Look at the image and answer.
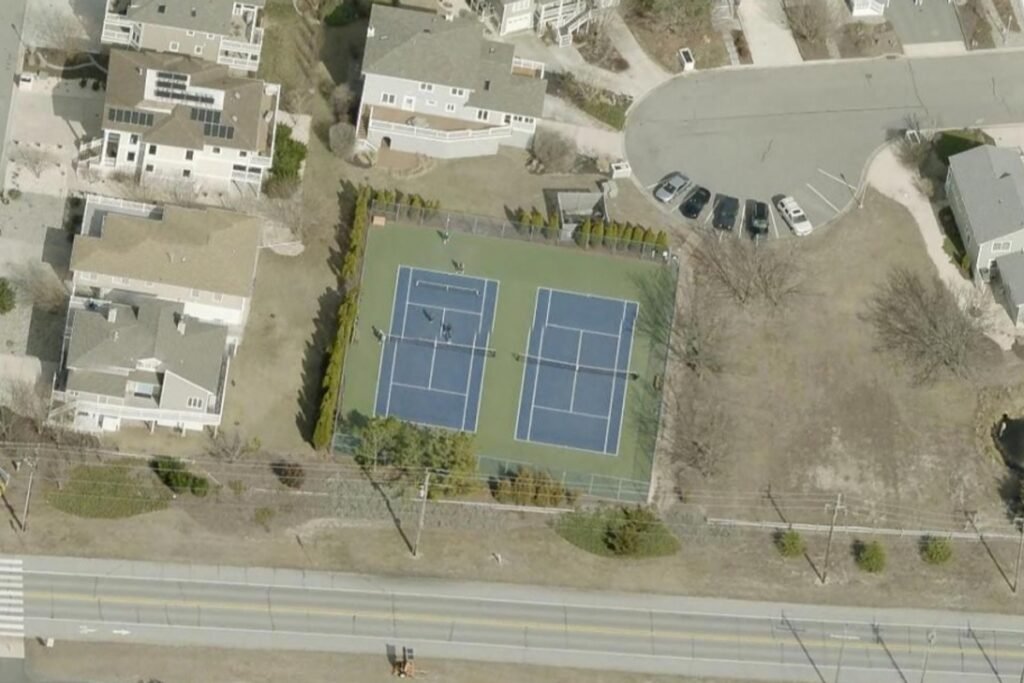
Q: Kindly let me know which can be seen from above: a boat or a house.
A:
house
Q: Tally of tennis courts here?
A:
2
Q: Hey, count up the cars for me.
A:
five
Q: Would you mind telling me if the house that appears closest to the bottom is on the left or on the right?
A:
left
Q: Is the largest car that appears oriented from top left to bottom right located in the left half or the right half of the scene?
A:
right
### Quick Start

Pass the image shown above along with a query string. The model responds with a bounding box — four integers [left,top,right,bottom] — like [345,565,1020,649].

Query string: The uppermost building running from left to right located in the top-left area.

[97,0,272,78]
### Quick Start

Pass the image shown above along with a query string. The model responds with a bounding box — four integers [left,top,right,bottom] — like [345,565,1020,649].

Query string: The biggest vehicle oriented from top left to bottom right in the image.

[780,197,812,235]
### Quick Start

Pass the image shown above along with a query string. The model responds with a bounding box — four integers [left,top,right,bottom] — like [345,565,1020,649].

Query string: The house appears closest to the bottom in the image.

[38,291,239,441]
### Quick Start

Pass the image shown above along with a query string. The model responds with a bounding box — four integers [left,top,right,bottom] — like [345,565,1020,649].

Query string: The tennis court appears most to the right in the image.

[491,244,677,502]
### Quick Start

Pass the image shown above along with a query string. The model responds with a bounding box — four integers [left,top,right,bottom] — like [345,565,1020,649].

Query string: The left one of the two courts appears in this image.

[334,223,520,478]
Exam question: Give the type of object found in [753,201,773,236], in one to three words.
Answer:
car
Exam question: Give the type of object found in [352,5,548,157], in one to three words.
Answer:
house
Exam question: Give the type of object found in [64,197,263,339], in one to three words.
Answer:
house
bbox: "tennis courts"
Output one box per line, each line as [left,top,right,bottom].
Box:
[491,244,677,502]
[334,223,520,478]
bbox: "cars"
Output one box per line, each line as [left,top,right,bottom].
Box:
[753,201,773,236]
[682,188,715,219]
[656,176,692,204]
[780,197,812,235]
[715,194,740,232]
